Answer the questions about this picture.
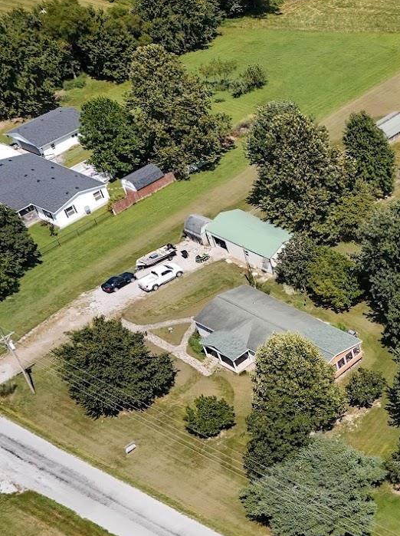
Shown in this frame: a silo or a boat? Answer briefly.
boat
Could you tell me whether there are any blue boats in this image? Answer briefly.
No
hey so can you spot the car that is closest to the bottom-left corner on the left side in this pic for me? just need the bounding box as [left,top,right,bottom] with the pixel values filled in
[96,269,138,294]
